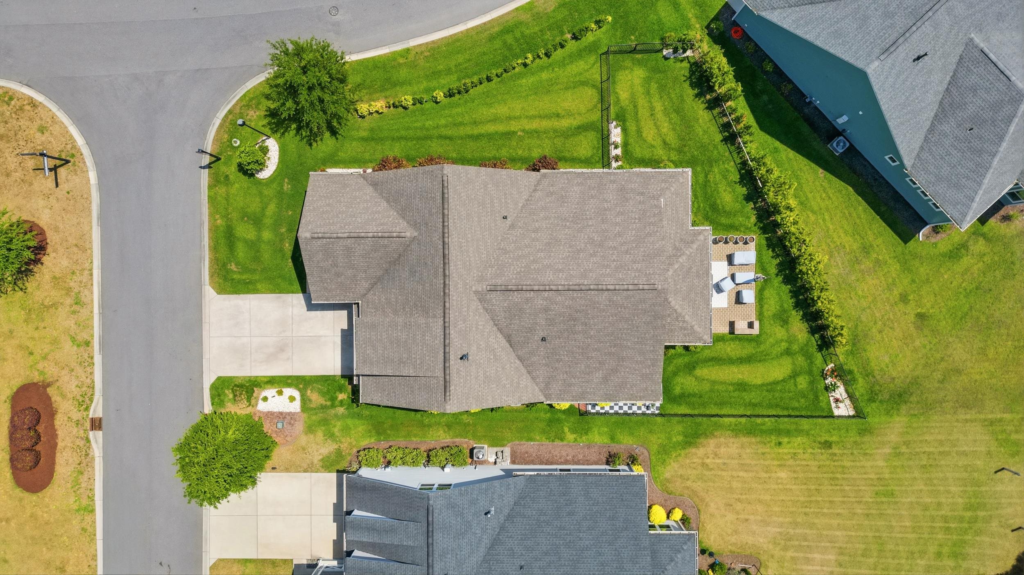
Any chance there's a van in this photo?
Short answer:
No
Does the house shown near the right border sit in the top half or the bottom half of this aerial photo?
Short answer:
top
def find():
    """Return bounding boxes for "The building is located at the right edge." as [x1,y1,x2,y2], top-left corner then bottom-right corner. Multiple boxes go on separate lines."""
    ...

[730,0,1024,234]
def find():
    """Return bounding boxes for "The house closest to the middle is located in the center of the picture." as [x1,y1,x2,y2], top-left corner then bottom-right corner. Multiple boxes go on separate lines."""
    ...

[299,165,714,413]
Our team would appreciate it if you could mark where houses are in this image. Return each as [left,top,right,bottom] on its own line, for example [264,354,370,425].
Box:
[730,0,1024,234]
[342,464,700,575]
[299,165,714,413]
